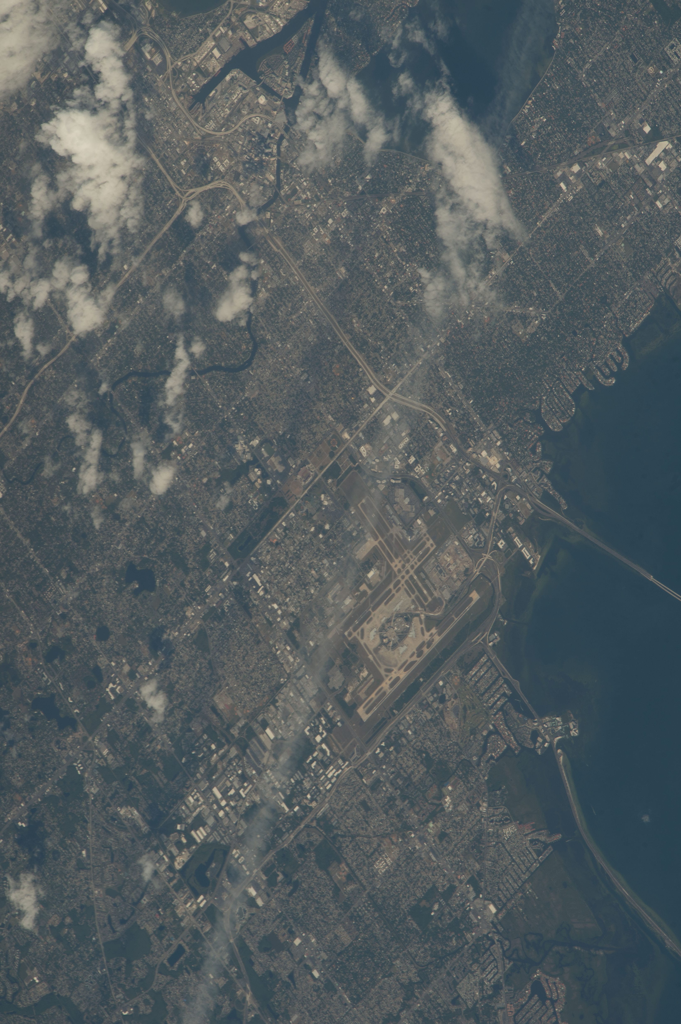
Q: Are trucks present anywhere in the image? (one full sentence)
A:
No, no truck can be seen from above.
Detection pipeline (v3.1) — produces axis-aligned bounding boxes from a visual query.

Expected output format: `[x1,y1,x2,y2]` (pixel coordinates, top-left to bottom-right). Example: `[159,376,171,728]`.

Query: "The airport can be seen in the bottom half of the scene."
[332,496,485,752]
